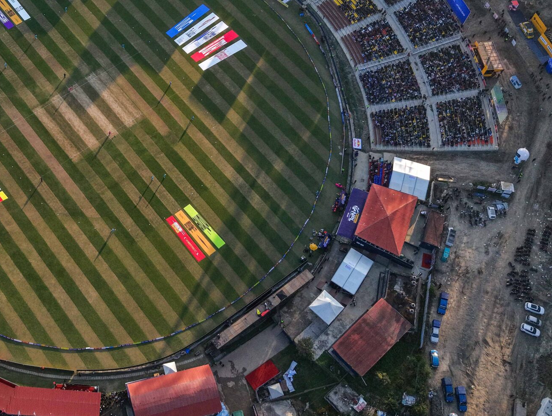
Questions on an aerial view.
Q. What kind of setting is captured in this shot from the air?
sports ground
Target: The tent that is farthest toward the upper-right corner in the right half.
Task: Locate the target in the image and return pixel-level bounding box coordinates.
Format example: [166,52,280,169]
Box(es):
[387,157,429,206]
